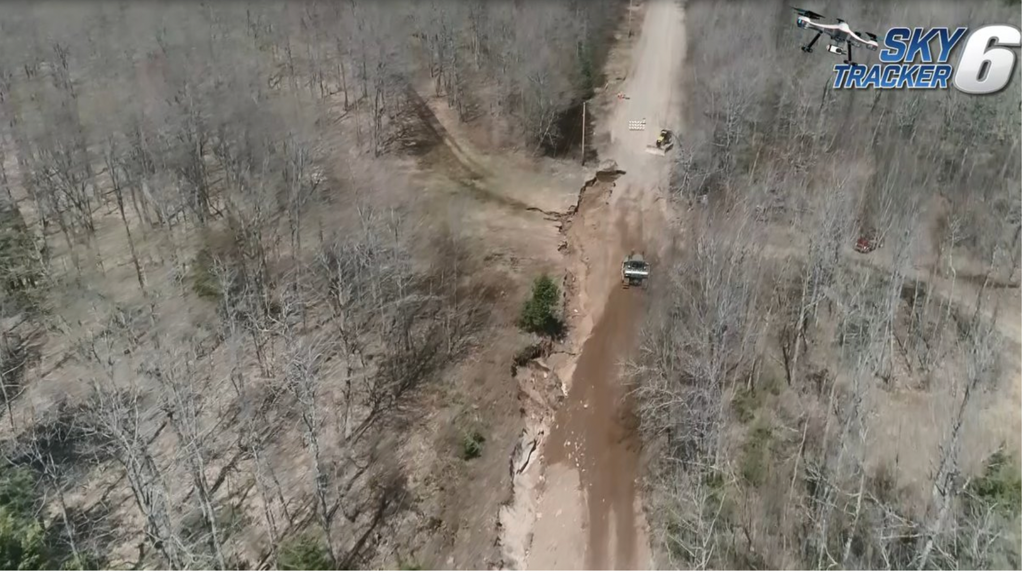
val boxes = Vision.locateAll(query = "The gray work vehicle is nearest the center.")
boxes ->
[621,249,649,287]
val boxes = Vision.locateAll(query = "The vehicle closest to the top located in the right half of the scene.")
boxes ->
[650,127,677,156]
